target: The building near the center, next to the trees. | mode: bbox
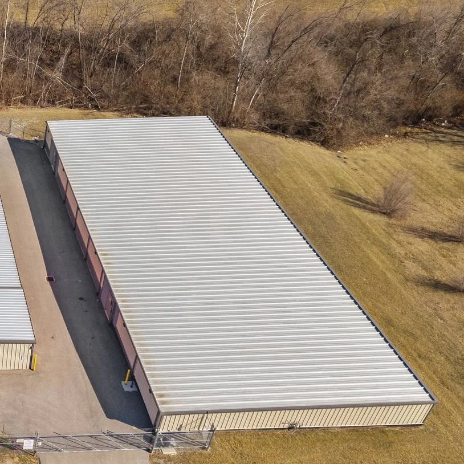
[46,118,437,436]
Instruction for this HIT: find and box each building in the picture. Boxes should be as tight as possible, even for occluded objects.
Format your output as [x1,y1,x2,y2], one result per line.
[0,194,36,369]
[46,118,437,436]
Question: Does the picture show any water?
No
